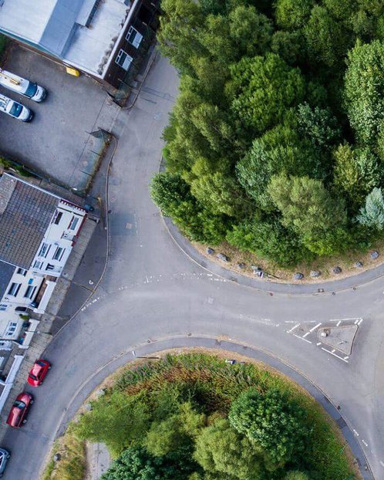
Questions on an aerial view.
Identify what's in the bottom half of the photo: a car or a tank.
car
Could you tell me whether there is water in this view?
No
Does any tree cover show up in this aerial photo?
Yes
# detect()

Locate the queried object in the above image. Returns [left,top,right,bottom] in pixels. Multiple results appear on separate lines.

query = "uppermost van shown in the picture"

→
[0,66,48,103]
